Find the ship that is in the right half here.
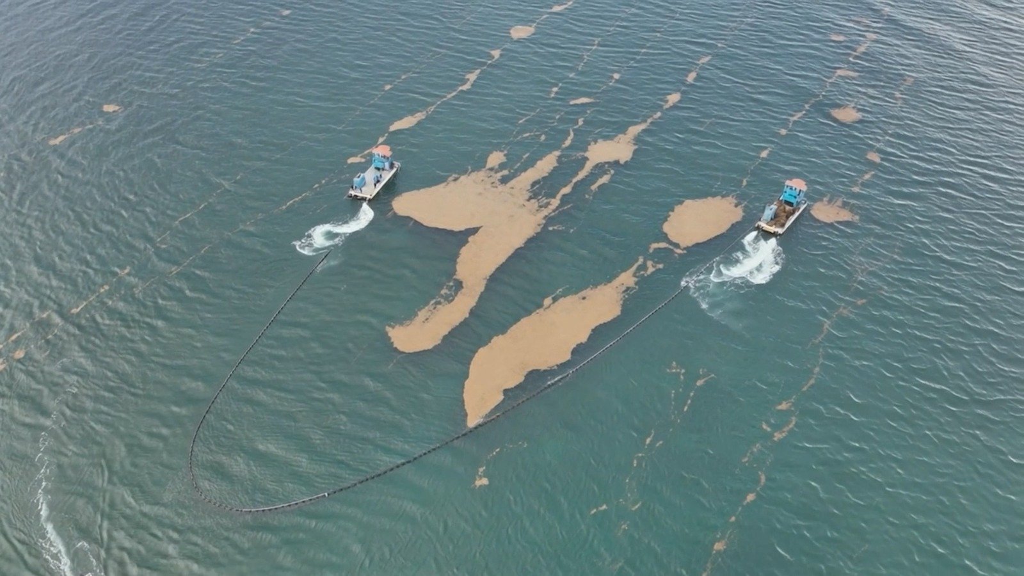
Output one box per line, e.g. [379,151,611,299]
[756,185,808,238]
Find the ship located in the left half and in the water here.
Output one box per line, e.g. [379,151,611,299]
[350,150,399,202]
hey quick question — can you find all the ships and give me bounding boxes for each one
[350,150,399,202]
[756,185,808,238]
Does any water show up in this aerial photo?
Yes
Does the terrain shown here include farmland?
No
